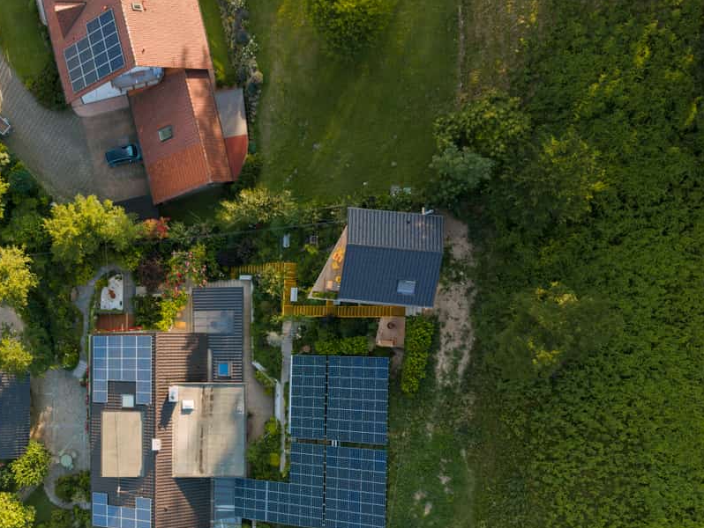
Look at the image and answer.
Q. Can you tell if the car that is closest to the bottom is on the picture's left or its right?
left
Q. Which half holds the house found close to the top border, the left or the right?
left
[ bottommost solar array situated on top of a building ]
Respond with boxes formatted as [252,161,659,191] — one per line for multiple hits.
[91,493,150,528]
